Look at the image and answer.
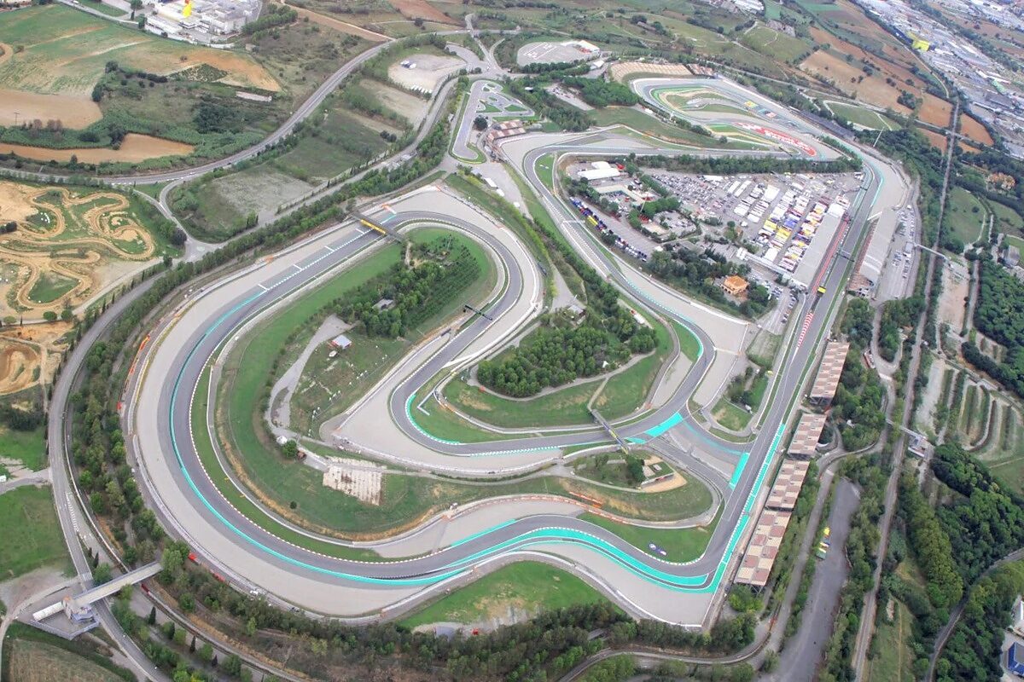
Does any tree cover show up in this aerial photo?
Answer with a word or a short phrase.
Yes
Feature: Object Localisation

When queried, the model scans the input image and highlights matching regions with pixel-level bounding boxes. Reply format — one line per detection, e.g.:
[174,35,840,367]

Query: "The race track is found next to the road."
[176,78,882,578]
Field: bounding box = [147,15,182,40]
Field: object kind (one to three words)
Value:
building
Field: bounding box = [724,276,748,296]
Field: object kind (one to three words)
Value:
house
